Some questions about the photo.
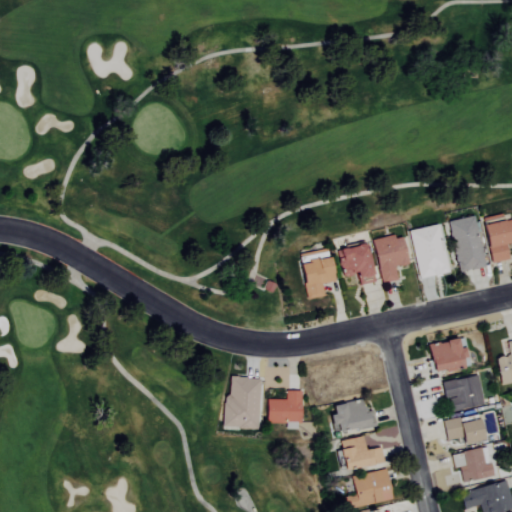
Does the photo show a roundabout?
No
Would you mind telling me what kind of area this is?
golf course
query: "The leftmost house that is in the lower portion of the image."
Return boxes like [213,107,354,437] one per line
[222,376,263,432]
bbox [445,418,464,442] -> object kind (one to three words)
building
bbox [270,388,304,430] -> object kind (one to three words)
house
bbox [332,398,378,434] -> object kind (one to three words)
house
